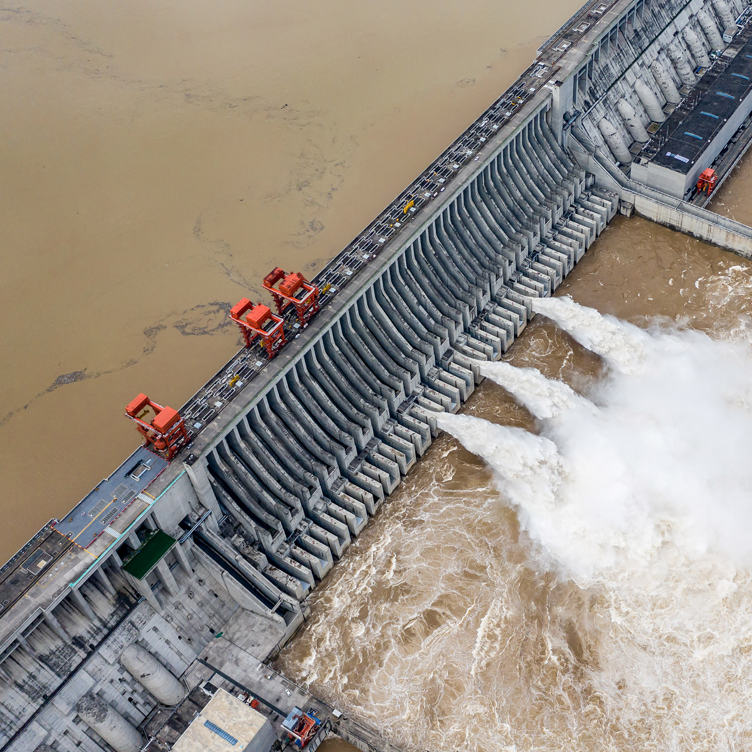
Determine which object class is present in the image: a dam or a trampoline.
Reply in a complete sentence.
The image shows a dam.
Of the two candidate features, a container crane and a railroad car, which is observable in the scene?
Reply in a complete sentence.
Looking from above, you can make out a container crane.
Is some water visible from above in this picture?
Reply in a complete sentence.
Yes, water can be seen from above here.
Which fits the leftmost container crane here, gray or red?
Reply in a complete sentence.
The leftmost container crane is red.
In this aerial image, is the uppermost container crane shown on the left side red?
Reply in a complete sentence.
Yes, red is the color of the uppermost container crane shown on the left side.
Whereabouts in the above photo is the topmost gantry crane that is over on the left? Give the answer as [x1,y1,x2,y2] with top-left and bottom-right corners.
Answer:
[260,265,321,328]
